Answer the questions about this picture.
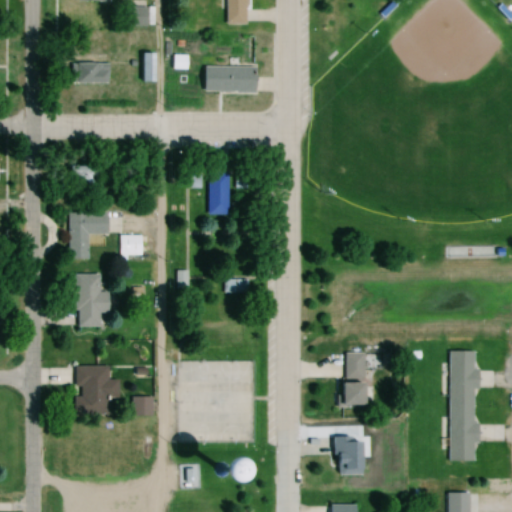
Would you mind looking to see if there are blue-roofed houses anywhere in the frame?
Yes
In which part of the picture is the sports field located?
top right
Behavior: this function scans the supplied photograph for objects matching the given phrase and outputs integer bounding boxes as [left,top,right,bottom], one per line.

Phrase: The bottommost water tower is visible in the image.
[213,458,258,484]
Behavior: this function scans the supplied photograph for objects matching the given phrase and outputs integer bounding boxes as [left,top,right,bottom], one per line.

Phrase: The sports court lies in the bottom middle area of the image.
[176,362,251,442]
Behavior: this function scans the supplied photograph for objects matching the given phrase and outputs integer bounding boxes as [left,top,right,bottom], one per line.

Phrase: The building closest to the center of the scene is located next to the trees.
[223,278,250,294]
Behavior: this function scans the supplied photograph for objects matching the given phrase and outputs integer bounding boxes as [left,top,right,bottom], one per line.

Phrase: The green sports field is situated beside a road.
[308,0,512,224]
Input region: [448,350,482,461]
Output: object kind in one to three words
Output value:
building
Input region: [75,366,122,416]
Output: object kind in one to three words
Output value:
house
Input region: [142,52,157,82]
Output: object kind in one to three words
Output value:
shed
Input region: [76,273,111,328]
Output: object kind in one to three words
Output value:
house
